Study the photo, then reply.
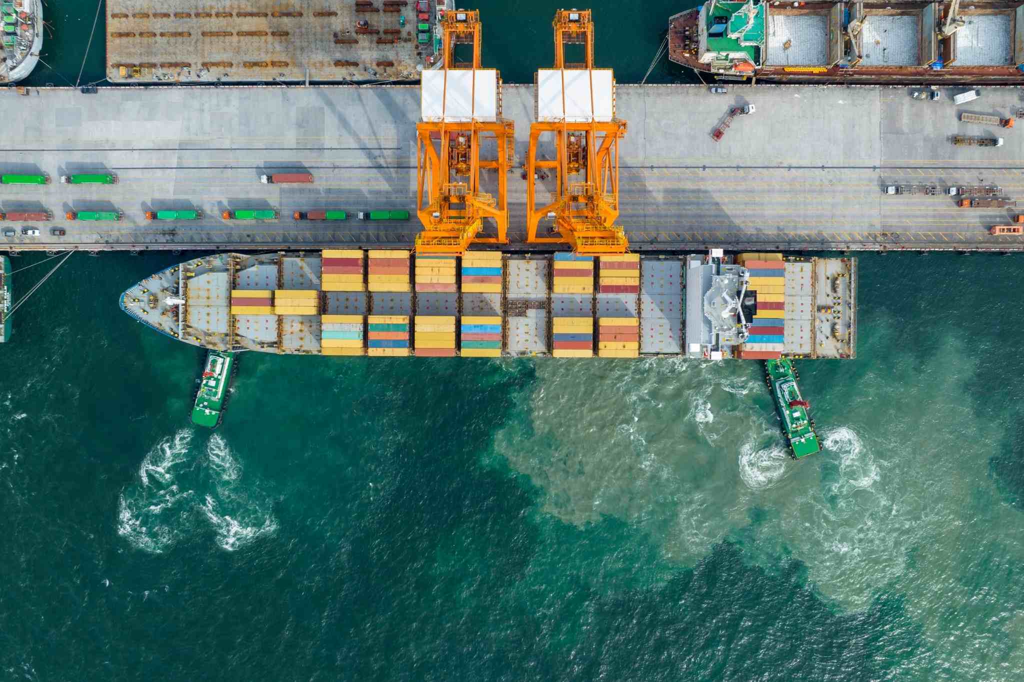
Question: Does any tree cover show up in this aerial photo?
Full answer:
No, there's no tree cover in this view.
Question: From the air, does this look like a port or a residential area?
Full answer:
The picture captures a port.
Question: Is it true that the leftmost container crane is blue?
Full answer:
No, the color of the leftmost container crane is orange.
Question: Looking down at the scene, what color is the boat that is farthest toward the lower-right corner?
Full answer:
From above, the boat that is farthest toward the lower-right corner appears green.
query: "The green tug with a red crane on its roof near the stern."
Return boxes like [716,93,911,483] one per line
[767,359,823,459]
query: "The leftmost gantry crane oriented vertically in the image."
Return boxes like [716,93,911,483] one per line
[404,6,521,255]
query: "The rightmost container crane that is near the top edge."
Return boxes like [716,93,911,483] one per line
[516,6,636,255]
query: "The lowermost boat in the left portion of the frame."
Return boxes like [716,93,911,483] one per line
[190,347,235,430]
